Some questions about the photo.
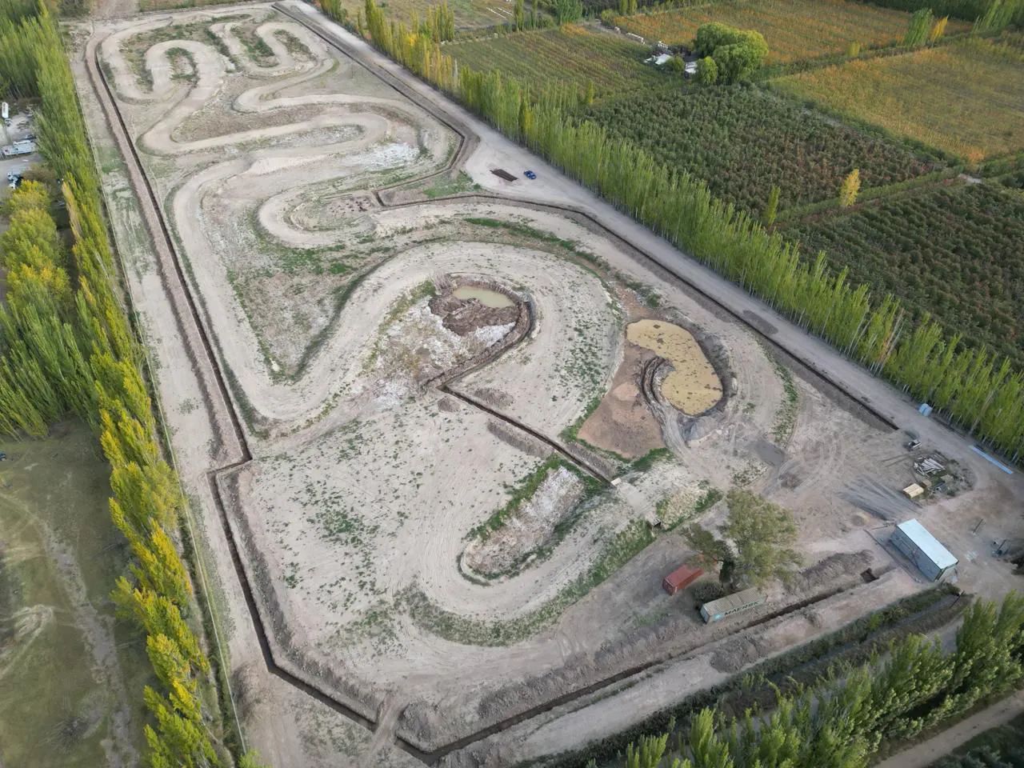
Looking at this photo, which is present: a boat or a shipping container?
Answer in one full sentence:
The one in the frame is a shipping container.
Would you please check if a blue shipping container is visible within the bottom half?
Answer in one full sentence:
No, looking within the bottom half, there is no blue shipping container.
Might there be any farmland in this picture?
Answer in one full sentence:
Yes, farmland can be seen from above here.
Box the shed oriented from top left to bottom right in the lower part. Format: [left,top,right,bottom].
[890,519,959,581]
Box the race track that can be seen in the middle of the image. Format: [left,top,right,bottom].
[99,2,785,627]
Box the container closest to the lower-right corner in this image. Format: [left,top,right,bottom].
[702,581,768,620]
